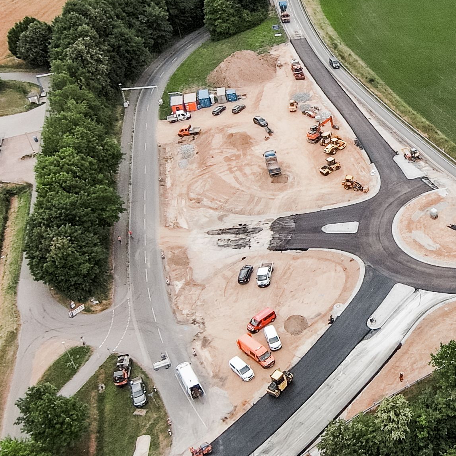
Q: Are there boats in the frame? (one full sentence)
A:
No, the photo shows no boat.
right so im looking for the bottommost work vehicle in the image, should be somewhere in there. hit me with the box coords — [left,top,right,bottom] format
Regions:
[184,433,216,456]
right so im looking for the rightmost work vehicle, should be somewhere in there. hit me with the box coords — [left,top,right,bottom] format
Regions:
[401,145,420,159]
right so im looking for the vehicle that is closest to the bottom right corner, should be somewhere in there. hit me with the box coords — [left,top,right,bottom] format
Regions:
[263,362,297,397]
